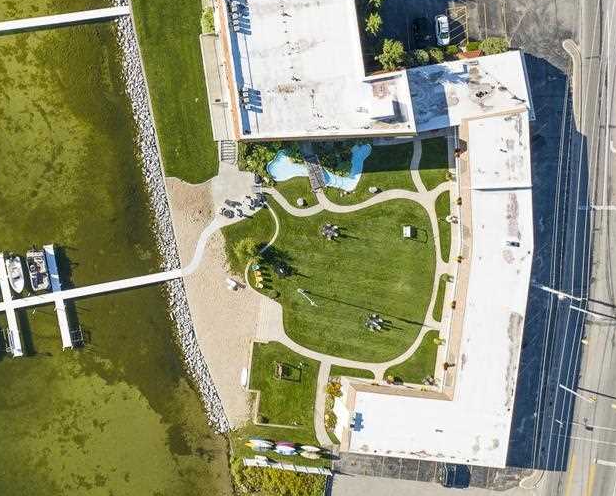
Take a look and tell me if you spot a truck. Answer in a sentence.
No, the frame has no truck in it.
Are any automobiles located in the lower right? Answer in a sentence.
Yes, an automobile is visible in the lower right.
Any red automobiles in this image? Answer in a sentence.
No, I can't see a single red automobile in this photo.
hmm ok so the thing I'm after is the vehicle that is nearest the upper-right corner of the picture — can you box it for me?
[434,14,451,46]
